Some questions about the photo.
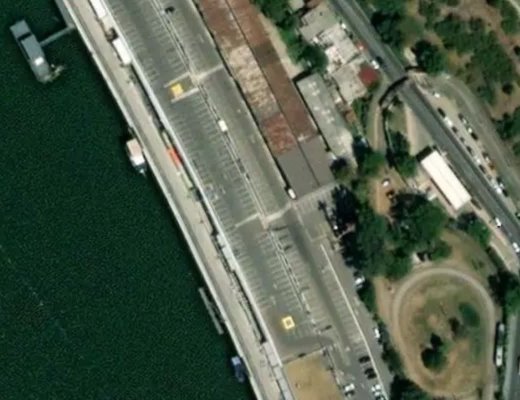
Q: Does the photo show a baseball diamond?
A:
No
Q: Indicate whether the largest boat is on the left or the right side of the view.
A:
left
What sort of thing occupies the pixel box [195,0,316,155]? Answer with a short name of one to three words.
warehouse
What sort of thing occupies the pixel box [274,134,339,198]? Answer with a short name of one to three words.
building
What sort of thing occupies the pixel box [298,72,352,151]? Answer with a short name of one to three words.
building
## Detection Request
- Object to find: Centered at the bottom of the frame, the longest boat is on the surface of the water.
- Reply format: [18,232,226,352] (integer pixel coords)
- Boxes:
[231,355,244,382]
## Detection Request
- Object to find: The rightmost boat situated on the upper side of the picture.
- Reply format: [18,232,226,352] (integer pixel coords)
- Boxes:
[124,138,146,173]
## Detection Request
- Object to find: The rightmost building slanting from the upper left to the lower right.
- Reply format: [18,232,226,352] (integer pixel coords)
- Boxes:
[421,151,472,209]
